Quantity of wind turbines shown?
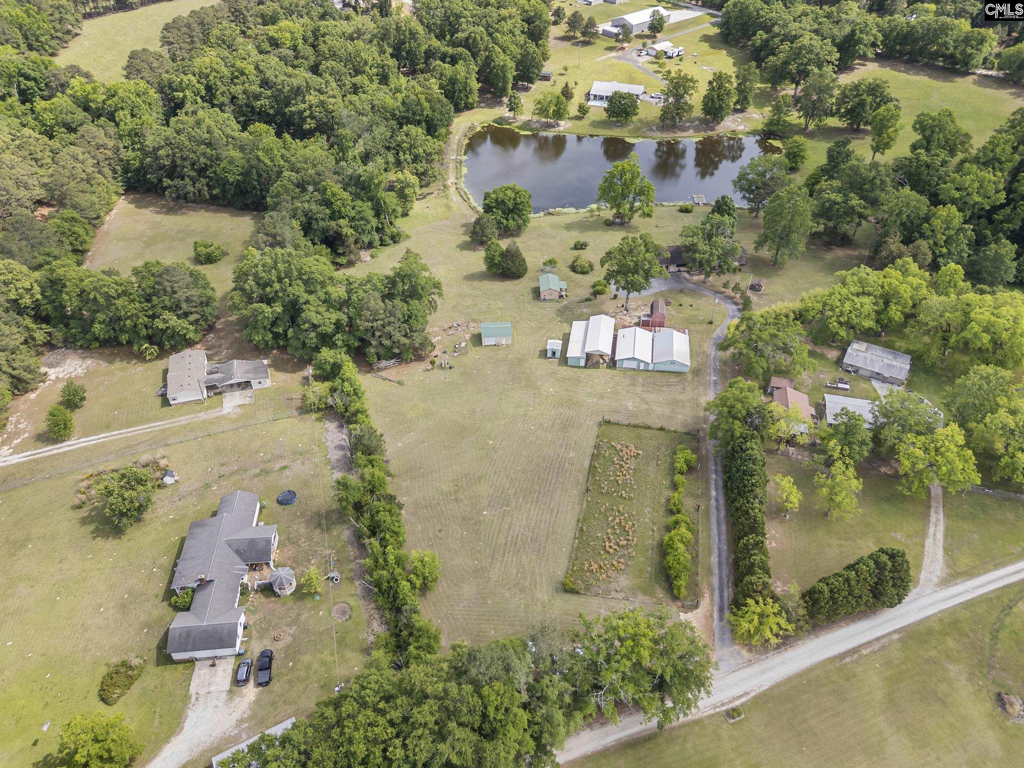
0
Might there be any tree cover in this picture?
Yes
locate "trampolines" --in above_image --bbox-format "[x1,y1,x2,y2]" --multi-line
[277,488,296,504]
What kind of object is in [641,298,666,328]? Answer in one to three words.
barn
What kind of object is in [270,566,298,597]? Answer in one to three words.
gazebo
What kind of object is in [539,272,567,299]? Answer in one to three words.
building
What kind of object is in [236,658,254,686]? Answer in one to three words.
car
